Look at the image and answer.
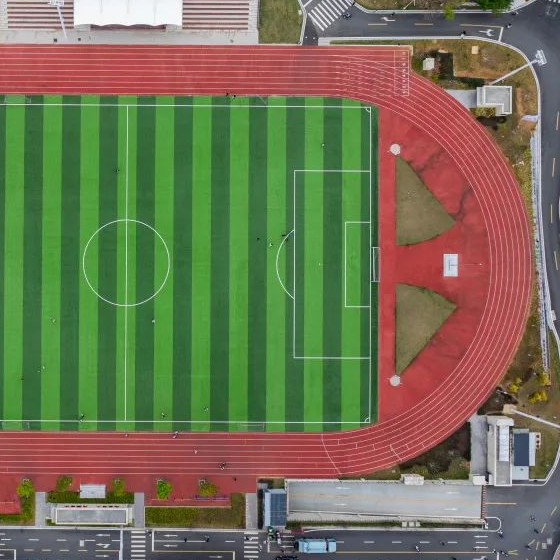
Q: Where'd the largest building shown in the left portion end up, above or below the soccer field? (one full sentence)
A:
You can see the largest building shown in the left portion below the soccer field in the frame.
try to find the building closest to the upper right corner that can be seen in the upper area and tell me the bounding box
[474,86,513,117]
